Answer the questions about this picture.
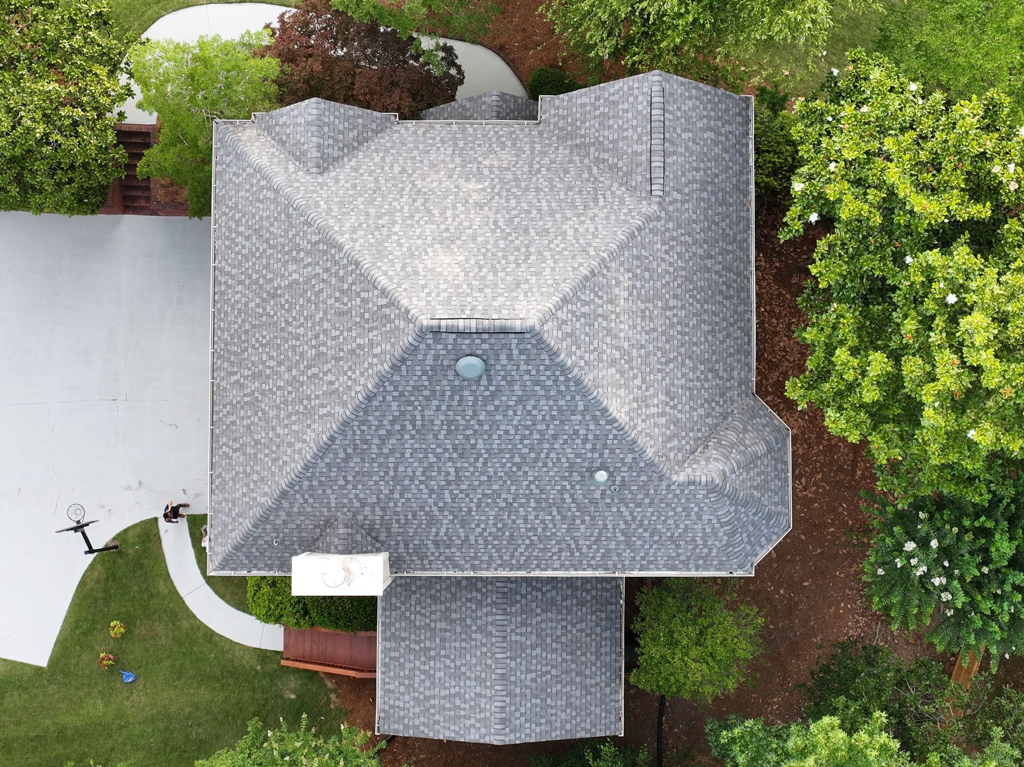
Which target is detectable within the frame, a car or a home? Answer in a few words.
home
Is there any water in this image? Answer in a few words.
No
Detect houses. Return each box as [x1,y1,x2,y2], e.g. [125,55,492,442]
[208,69,792,744]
